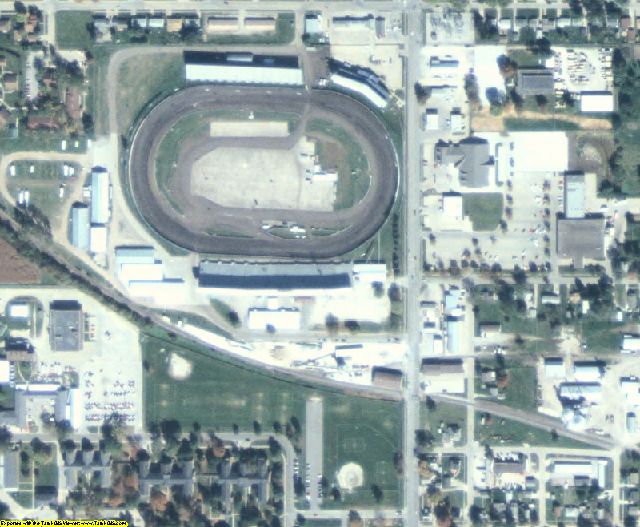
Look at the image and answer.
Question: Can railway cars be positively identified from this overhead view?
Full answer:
No, I can't see a single railway car in this photo.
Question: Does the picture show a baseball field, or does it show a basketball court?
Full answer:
Looking from above, you can make out a baseball field.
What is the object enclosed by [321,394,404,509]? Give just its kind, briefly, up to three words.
sports field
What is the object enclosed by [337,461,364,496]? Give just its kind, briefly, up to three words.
baseball field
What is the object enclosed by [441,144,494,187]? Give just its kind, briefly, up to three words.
building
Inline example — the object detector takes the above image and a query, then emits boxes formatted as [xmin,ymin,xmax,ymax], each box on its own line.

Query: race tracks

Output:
[125,83,402,261]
